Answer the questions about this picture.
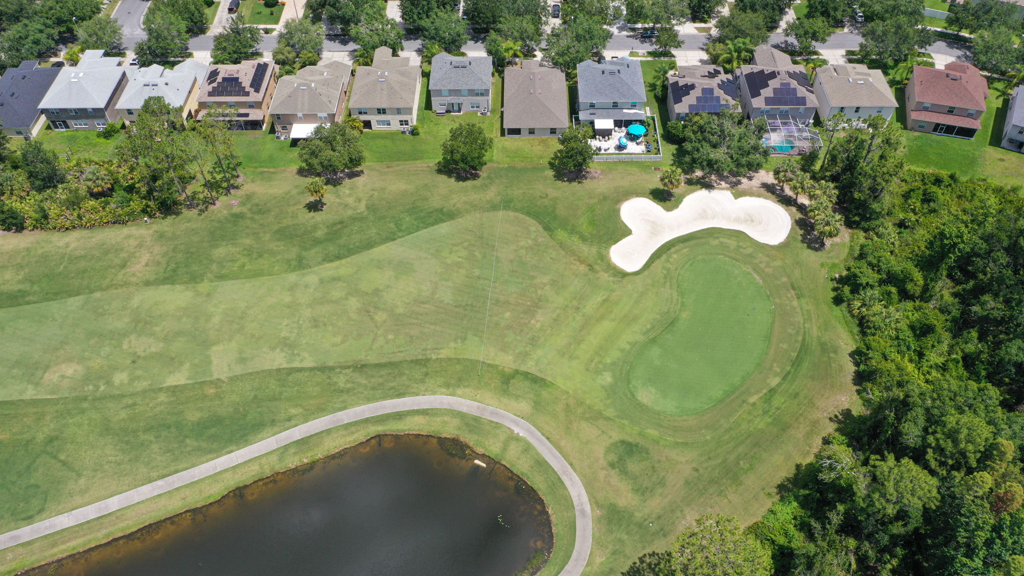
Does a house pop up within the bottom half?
No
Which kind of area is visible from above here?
golf course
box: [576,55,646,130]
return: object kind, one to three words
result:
house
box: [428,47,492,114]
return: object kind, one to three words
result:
house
